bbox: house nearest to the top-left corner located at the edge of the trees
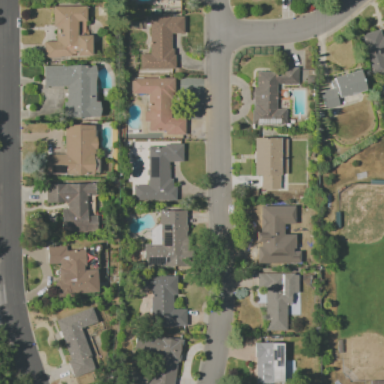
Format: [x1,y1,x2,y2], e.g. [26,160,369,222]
[45,6,94,57]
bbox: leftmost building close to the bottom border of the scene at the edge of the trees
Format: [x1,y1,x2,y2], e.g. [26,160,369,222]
[58,308,100,377]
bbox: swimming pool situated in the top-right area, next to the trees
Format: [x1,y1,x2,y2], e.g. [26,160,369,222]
[293,89,308,116]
